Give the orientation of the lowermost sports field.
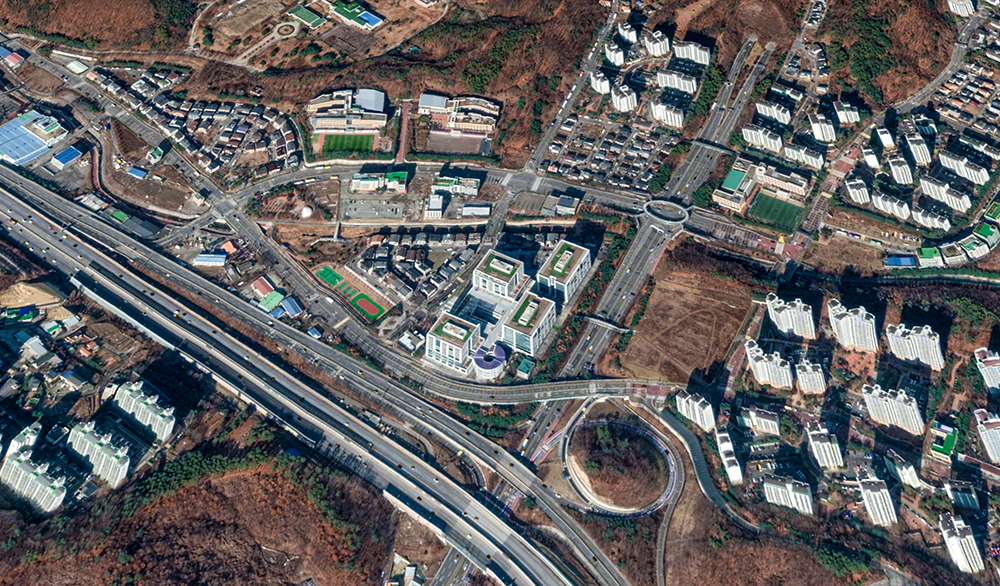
on a diagonal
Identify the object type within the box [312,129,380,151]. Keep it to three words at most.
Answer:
soccer field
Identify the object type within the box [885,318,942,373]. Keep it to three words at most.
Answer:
building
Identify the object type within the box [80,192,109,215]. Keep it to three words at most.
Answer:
shed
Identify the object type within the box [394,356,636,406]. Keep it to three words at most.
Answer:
bridge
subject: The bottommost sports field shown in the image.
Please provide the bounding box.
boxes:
[313,262,393,321]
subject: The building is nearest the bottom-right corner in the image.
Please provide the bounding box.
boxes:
[938,515,979,570]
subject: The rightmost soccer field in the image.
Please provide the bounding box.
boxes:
[746,188,807,231]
